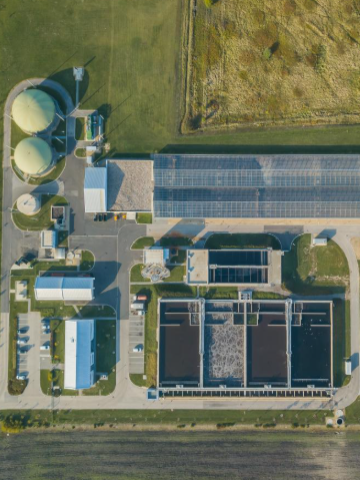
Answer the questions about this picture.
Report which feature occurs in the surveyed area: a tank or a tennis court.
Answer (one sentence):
The image shows a tank.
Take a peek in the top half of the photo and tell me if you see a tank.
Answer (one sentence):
Yes, a tank can be seen in the top half of the photo.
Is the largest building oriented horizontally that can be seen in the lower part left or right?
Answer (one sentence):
The largest building oriented horizontally that can be seen in the lower part appears in the left half of the scene.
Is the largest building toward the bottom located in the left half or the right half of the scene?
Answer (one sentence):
The largest building toward the bottom is on the left side of the image.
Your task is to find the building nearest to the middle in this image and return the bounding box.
[145,249,169,263]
